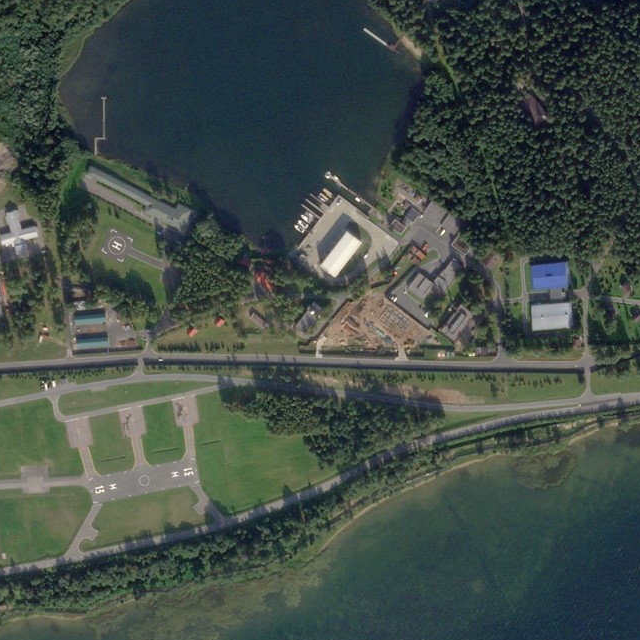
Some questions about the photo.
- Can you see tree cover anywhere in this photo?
Yes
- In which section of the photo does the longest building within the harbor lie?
center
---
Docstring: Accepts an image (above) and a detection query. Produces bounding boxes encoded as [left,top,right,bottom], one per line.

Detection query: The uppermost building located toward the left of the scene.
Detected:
[85,166,193,231]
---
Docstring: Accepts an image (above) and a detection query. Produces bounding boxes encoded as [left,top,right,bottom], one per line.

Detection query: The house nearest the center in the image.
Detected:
[296,301,323,333]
